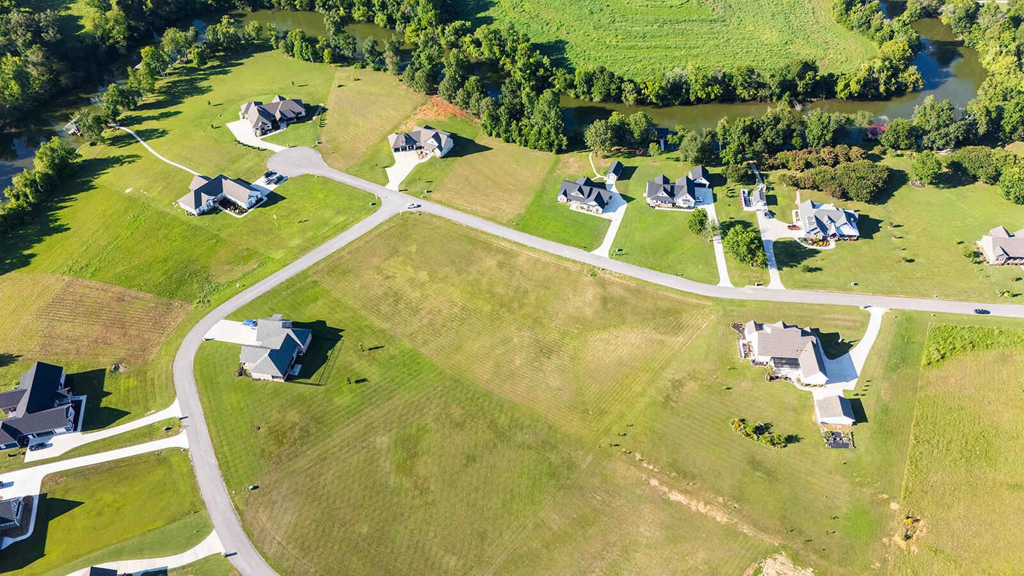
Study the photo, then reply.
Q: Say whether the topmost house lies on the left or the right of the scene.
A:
left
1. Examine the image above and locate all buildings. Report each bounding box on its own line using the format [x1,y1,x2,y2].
[237,314,315,385]
[750,190,767,209]
[794,199,859,245]
[0,362,83,453]
[0,494,29,550]
[814,395,858,427]
[555,177,615,218]
[602,161,627,186]
[80,565,123,576]
[645,175,698,209]
[978,225,1024,267]
[385,125,454,160]
[175,174,266,218]
[738,320,830,386]
[240,95,309,136]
